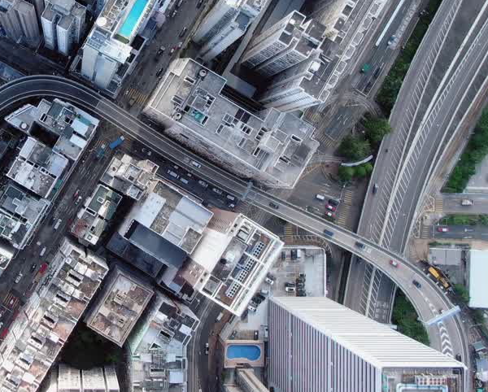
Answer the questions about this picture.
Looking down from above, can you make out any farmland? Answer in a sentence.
No, farmland can't be seen anywhere here.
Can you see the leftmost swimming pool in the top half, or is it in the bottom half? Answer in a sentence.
It is in the top half that the leftmost swimming pool appears.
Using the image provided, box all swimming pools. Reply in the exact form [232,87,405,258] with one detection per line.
[228,345,261,361]
[119,0,146,38]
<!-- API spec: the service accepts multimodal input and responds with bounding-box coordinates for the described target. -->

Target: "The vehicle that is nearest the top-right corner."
[385,32,401,49]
